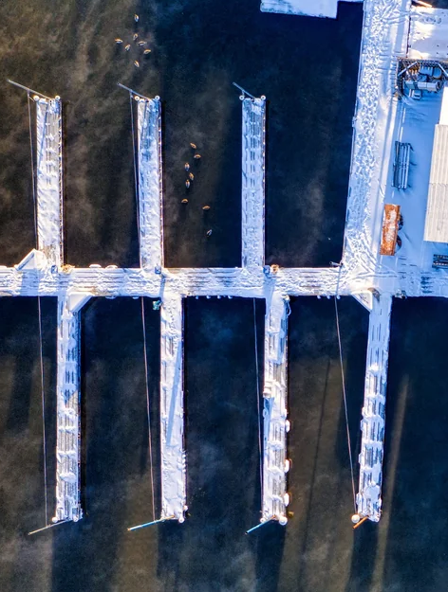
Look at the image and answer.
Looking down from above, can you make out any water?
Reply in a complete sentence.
Yes, water shows up in the scene.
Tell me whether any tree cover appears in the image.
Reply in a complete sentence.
No, the picture contains no tree cover.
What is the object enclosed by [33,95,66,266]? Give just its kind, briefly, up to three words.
pier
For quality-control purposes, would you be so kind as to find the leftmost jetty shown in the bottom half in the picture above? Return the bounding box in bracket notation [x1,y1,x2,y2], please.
[52,296,84,522]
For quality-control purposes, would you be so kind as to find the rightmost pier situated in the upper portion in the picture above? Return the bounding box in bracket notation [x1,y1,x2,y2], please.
[238,95,269,268]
